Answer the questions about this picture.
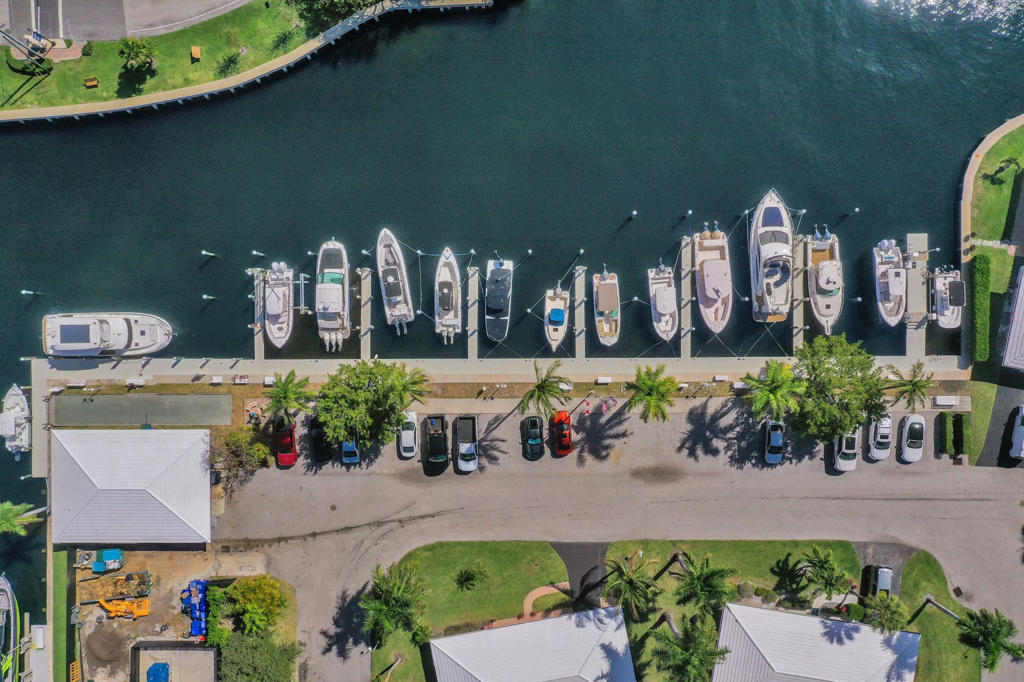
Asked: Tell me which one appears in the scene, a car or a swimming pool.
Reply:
car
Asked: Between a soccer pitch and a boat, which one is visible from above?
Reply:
boat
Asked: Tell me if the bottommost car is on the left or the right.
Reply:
right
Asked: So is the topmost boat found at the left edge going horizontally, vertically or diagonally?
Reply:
horizontally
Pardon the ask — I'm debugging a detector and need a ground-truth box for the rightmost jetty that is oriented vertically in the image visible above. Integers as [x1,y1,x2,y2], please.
[905,234,928,358]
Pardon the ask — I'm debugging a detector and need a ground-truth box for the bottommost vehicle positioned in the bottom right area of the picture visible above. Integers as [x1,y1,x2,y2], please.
[866,556,893,598]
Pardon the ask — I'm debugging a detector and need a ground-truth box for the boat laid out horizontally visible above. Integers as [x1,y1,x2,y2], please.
[45,314,179,357]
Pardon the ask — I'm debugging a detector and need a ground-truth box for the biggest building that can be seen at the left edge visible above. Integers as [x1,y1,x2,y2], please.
[50,428,213,545]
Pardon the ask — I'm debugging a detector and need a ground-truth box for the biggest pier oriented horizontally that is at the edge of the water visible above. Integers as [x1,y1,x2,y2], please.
[47,358,971,380]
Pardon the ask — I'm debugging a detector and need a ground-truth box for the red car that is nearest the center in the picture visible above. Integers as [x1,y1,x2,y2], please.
[551,409,574,456]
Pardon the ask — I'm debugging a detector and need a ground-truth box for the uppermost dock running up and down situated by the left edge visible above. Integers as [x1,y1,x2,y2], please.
[31,359,48,476]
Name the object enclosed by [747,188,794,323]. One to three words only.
boat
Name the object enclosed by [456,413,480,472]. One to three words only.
truck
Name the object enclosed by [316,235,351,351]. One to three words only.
boat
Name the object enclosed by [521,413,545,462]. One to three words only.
car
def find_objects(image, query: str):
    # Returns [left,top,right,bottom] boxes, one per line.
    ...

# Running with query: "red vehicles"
[273,421,298,468]
[551,409,574,456]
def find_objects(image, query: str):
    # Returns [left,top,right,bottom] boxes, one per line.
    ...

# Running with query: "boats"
[694,216,732,335]
[648,253,677,342]
[870,236,906,327]
[485,250,512,341]
[378,229,412,338]
[316,235,351,351]
[0,574,21,682]
[0,385,31,466]
[544,276,569,352]
[593,261,621,347]
[45,314,179,357]
[265,258,294,348]
[747,188,794,323]
[931,260,966,329]
[804,222,844,338]
[435,247,461,347]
